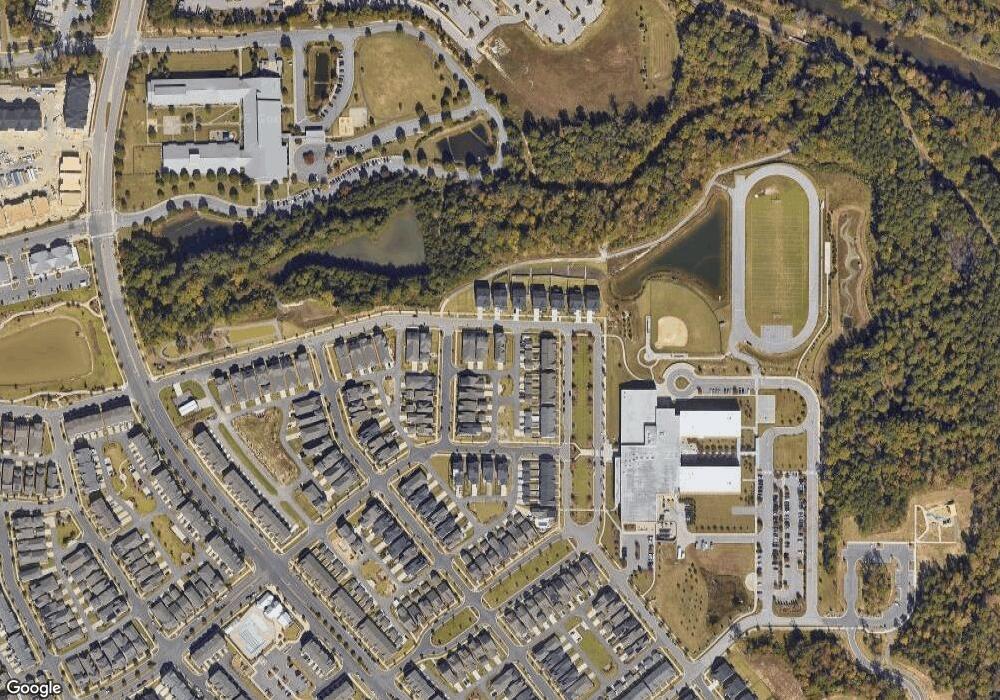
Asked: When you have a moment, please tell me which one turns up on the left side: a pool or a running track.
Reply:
pool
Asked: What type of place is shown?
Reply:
residential area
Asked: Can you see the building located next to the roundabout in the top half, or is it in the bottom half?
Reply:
bottom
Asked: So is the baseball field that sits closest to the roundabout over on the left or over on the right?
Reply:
right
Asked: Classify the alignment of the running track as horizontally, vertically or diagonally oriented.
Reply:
vertically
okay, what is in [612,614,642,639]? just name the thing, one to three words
house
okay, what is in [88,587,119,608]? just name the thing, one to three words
house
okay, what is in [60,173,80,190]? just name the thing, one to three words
building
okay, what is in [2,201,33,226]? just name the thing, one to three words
building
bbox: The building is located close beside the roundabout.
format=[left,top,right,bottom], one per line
[615,390,742,523]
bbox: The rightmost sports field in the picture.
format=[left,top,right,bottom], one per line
[746,176,809,336]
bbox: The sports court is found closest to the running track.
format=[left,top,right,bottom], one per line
[758,395,775,424]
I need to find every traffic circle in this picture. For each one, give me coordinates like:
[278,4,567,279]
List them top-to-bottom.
[662,363,700,400]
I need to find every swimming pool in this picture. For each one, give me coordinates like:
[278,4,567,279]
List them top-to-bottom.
[223,599,283,660]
